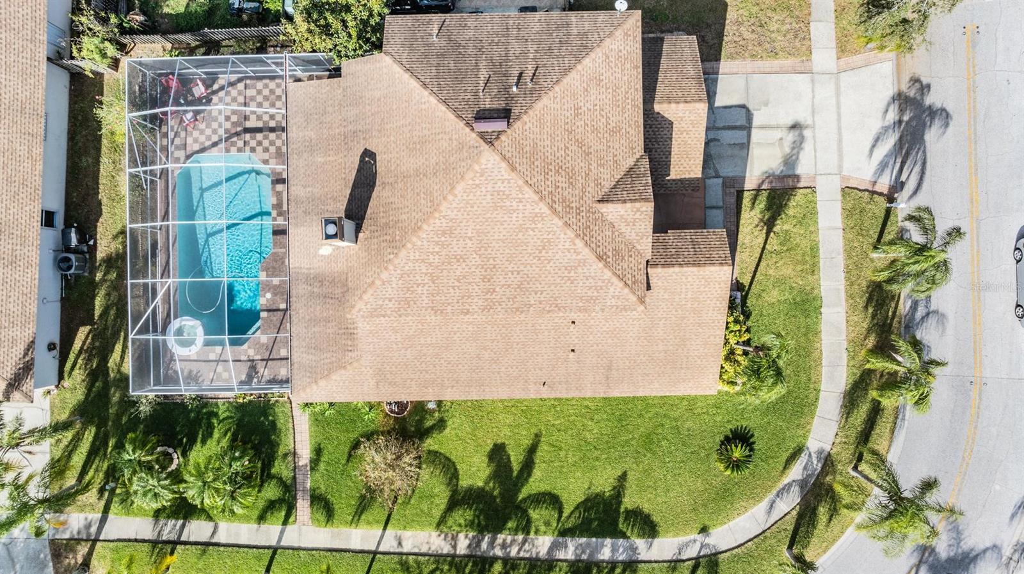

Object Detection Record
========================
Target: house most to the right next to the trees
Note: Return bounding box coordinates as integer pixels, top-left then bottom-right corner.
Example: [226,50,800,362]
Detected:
[286,0,732,404]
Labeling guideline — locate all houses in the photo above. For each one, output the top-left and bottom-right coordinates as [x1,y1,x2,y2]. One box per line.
[286,0,732,404]
[0,0,71,403]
